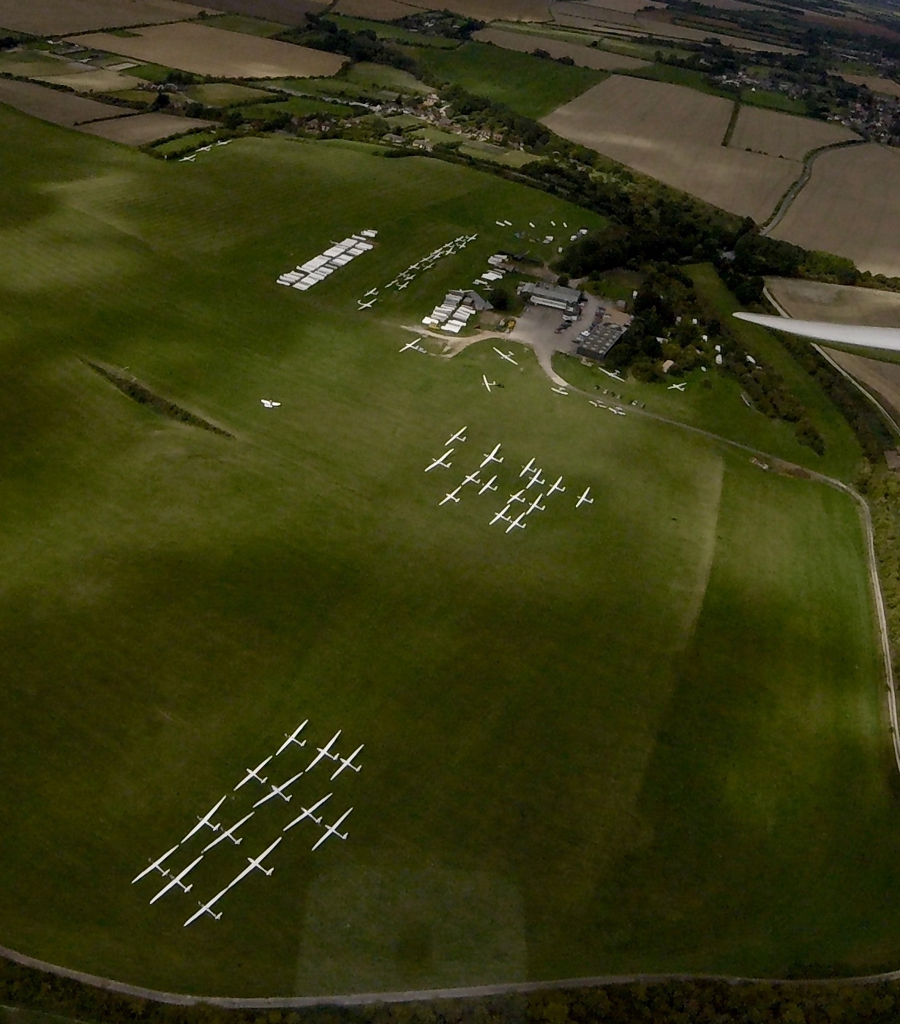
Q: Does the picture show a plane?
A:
Yes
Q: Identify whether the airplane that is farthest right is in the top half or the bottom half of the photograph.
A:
top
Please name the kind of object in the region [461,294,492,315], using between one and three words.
barn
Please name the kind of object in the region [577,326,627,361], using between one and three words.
hangar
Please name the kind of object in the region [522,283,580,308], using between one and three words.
building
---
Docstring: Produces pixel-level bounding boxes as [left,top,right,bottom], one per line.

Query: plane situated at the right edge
[733,312,900,351]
